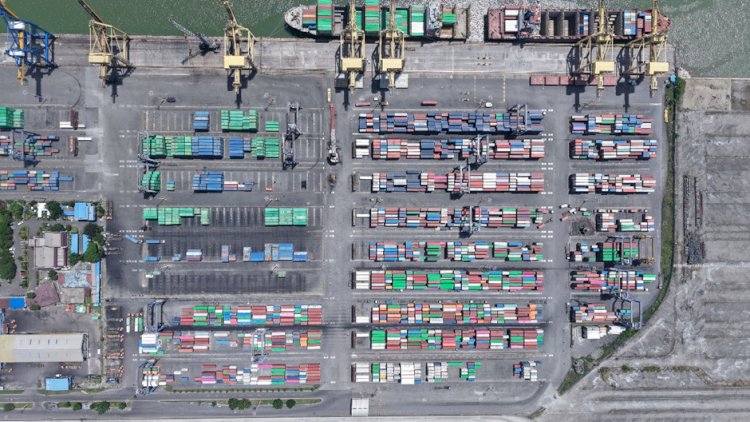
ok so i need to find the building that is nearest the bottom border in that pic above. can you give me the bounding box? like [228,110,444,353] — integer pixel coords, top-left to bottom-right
[351,396,368,416]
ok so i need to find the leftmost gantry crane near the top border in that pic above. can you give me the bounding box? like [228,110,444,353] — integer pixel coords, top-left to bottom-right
[0,1,59,88]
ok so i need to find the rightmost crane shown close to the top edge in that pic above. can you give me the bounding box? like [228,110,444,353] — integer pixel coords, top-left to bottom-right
[620,0,669,98]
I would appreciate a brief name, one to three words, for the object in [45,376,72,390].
shed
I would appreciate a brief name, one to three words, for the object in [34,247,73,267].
building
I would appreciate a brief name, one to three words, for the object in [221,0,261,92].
container crane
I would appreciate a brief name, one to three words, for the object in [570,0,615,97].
container crane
